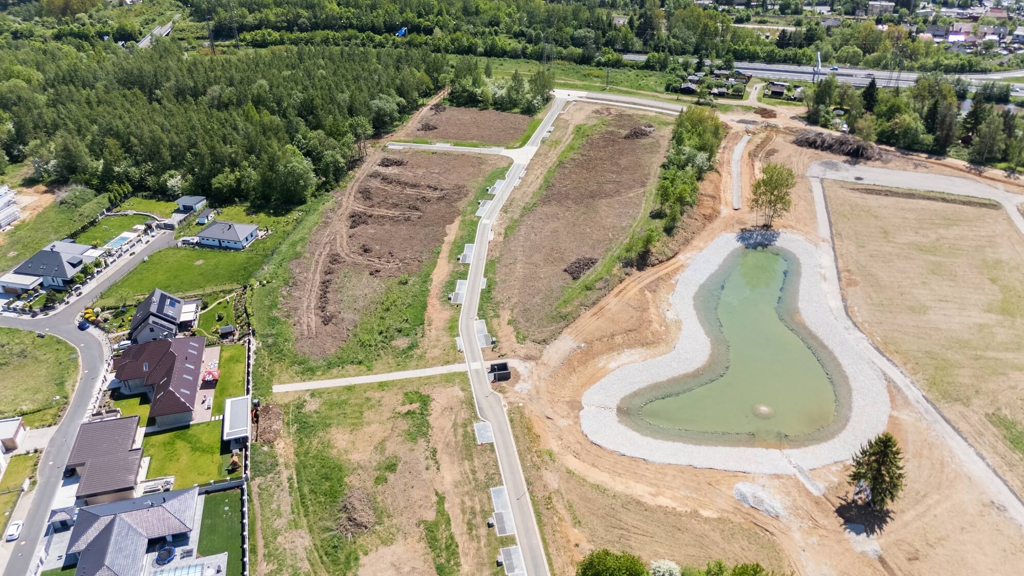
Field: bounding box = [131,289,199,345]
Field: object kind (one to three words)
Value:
house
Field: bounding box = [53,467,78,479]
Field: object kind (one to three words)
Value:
vehicle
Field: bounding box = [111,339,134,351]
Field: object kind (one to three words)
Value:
vehicle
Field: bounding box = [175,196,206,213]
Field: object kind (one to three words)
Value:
building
